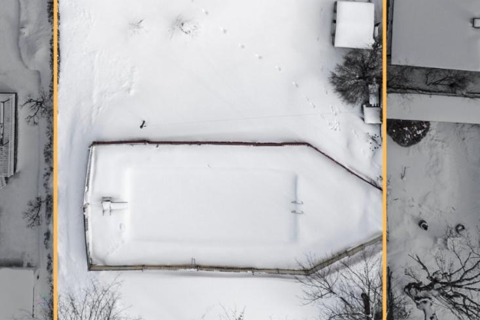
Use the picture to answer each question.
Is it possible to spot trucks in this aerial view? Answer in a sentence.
No, there isn't any truck down there.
